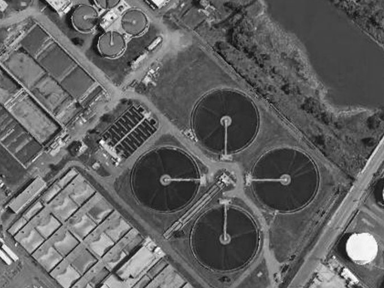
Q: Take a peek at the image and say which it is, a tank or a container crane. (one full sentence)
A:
Visible in the photo is a tank.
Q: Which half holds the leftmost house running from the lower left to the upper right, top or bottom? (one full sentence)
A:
Seen from above, the leftmost house running from the lower left to the upper right lies in the bottom half of the view.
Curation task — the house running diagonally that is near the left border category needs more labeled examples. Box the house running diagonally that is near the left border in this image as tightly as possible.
[8,178,45,215]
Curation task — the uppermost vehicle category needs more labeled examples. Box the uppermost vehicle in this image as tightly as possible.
[146,35,163,49]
